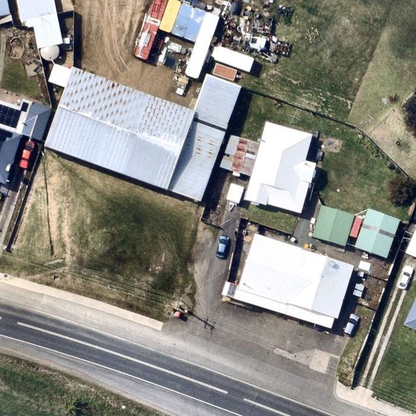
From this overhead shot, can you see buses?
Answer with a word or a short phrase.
Yes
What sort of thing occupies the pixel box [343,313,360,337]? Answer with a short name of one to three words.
car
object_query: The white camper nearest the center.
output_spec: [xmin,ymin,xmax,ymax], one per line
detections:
[227,183,244,207]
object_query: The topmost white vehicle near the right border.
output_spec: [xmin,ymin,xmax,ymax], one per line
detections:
[398,265,414,291]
